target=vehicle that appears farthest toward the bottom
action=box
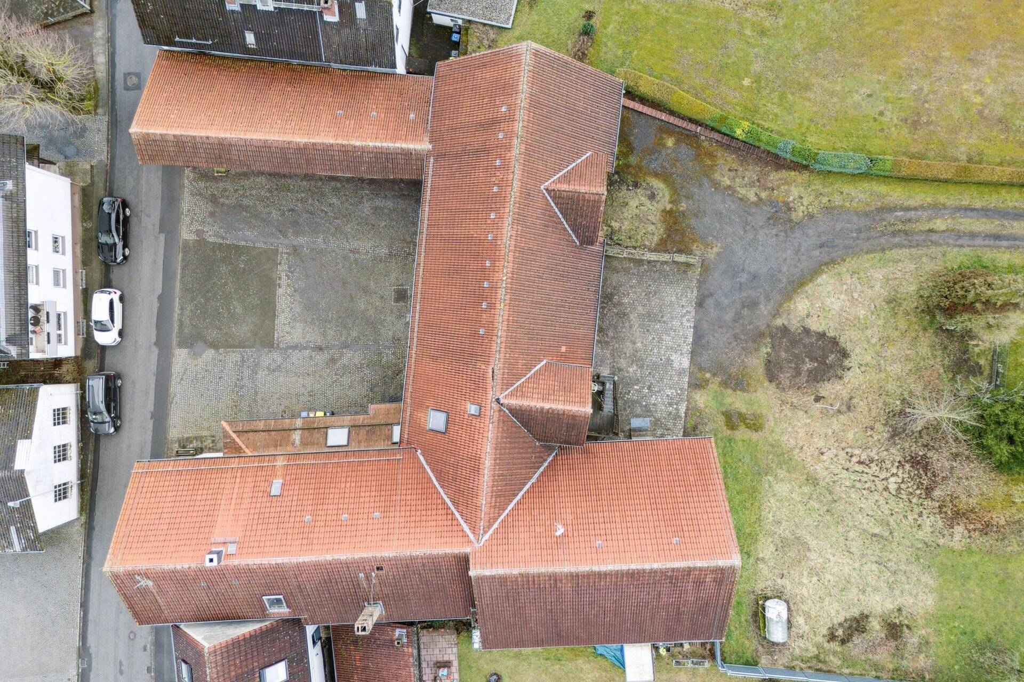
[84,371,125,435]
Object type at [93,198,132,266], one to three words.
car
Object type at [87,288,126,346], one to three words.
car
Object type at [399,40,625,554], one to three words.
barn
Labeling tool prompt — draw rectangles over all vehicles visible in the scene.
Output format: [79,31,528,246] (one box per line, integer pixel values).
[93,198,132,266]
[84,371,125,435]
[87,288,126,346]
